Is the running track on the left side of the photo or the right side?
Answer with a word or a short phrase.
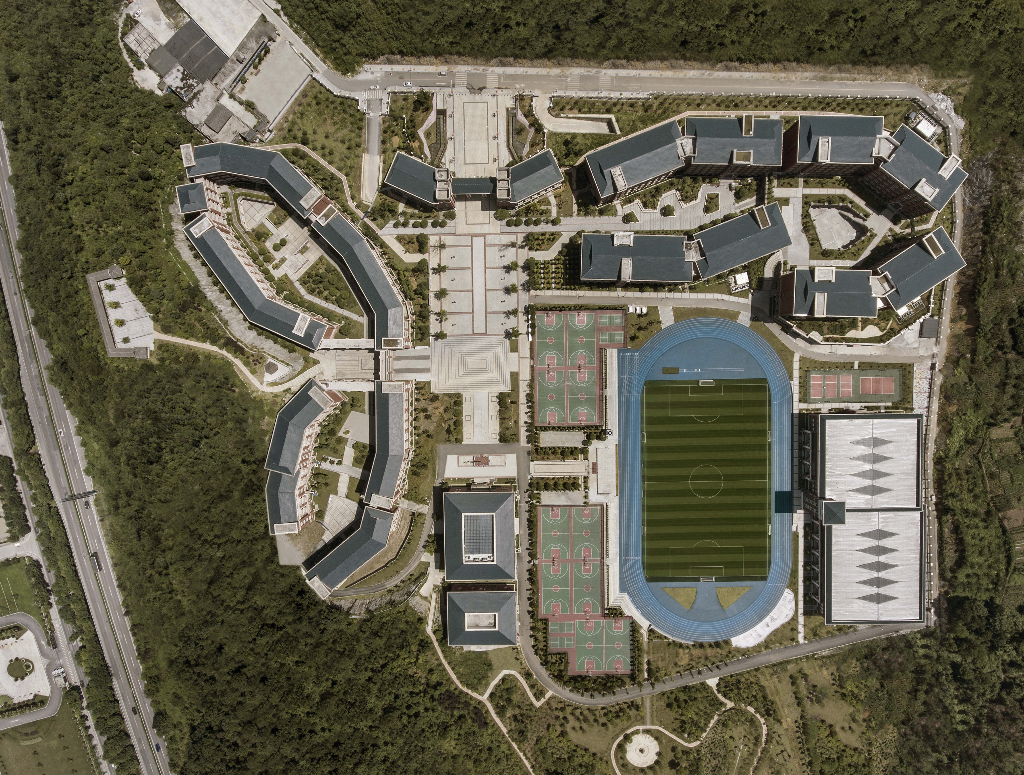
right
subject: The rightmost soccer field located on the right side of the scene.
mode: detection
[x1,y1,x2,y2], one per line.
[642,380,770,582]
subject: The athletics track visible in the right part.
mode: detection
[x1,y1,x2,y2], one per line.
[617,316,792,642]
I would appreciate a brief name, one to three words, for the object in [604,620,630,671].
basketball court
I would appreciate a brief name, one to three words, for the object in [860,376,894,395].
sports court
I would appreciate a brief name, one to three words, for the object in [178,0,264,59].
building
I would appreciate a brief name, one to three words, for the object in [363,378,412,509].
building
